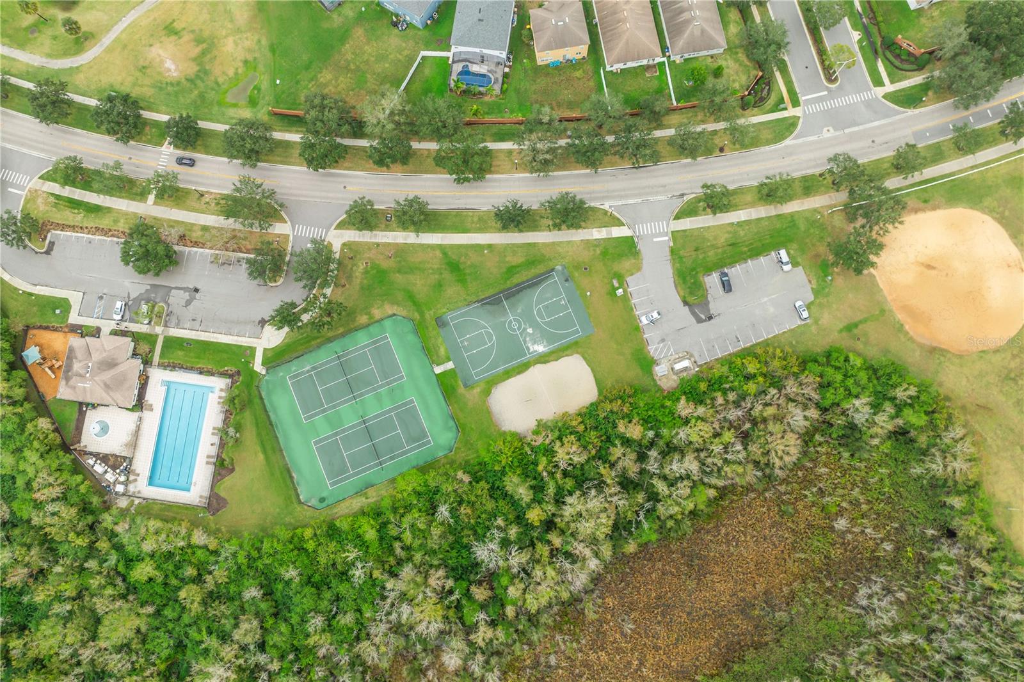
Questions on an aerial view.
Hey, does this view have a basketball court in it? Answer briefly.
Yes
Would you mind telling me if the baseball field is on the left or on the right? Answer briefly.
right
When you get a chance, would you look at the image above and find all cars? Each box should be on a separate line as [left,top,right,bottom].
[112,299,125,320]
[720,271,733,292]
[173,154,195,166]
[795,299,811,321]
[640,310,662,324]
[777,248,792,270]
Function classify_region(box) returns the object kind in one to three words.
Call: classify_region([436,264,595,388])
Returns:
basketball court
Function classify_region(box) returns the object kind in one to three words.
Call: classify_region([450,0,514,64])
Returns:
house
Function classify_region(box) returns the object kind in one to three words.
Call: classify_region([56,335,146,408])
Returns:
building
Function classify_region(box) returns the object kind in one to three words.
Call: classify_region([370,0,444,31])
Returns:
house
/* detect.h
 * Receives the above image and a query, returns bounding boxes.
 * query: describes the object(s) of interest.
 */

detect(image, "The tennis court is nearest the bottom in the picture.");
[312,397,433,489]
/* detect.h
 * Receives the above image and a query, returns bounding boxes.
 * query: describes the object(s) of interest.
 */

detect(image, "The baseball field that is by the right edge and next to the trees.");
[872,208,1024,354]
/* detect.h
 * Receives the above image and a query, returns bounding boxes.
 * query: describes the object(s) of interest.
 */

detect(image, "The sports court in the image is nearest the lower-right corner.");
[487,353,599,435]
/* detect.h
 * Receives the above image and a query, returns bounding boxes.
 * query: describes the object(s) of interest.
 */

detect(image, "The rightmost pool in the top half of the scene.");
[456,63,493,87]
